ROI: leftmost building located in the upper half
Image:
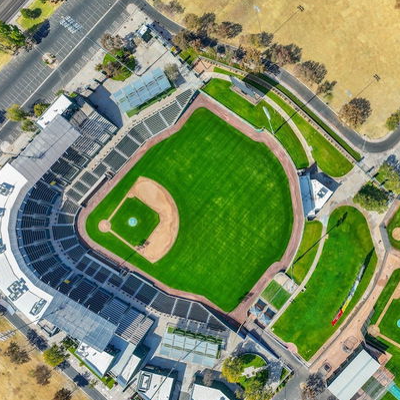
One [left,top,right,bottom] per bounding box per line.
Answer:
[37,95,95,129]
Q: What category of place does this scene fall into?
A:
sports ground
